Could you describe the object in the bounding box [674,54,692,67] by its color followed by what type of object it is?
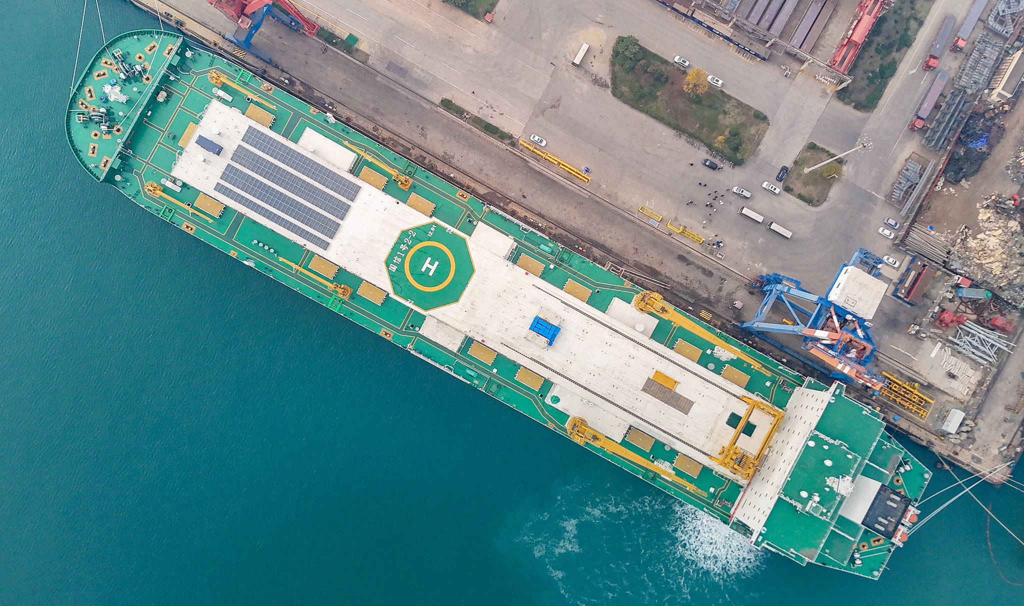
white vehicle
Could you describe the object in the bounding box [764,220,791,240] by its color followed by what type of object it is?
white vehicle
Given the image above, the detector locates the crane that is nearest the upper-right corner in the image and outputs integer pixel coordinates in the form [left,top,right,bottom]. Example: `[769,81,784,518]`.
[829,0,900,75]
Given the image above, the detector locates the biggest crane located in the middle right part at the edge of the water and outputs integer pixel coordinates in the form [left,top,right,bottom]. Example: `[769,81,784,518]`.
[732,245,890,390]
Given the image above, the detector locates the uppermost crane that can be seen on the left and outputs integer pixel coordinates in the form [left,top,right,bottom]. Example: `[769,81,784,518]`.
[204,0,321,64]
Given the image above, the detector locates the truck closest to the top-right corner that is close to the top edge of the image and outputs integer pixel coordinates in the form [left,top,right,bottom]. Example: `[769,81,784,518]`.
[953,0,988,50]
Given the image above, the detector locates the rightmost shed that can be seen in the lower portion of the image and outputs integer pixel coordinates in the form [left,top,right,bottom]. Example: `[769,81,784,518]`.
[937,407,965,434]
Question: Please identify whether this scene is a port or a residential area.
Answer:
port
